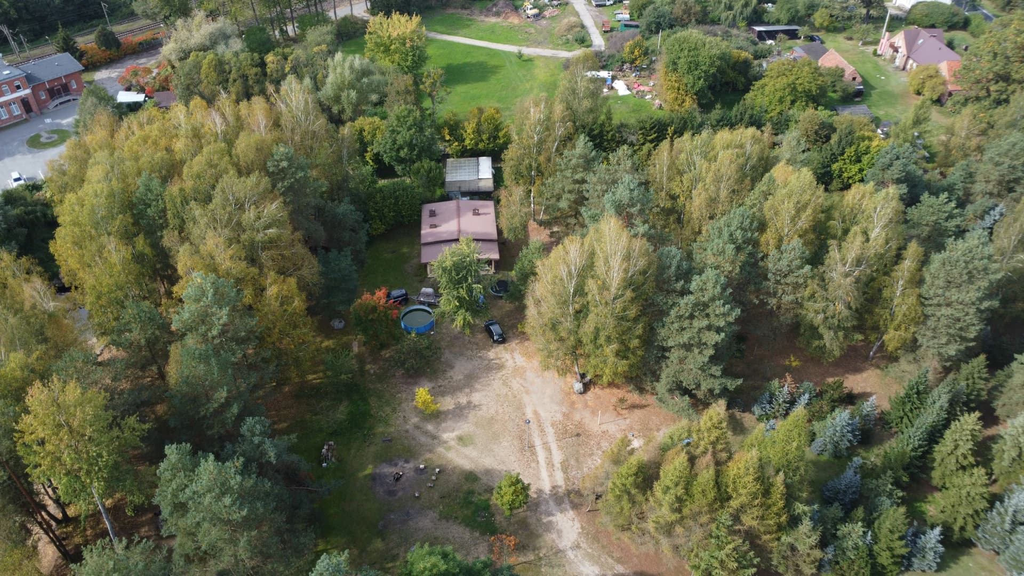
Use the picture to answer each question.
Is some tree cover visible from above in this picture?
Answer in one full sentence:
Yes, the picture does contain tree cover.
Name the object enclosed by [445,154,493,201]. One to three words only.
shed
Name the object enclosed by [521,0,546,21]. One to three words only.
work vehicle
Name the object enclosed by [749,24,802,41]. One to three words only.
shed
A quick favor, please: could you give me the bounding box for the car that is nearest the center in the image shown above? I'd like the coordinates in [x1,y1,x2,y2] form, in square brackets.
[483,316,507,340]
